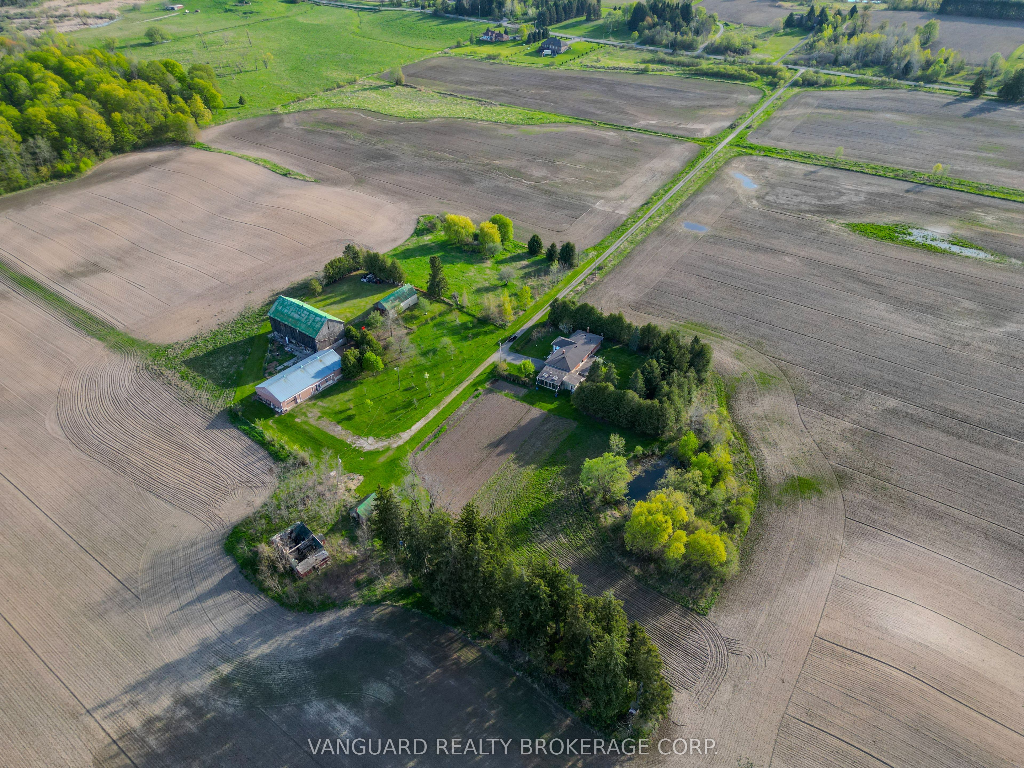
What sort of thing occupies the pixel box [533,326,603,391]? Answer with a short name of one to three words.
house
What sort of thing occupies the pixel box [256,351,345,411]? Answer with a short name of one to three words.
shed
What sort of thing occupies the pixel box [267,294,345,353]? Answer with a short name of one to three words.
barn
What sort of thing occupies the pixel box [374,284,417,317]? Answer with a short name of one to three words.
barn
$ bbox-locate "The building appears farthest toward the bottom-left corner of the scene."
[269,521,334,581]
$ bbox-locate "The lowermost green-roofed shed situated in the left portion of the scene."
[349,490,381,523]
